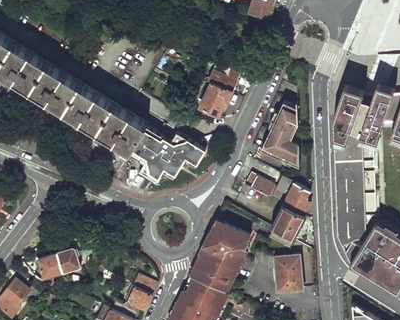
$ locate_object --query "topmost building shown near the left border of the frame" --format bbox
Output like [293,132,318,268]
[0,36,148,162]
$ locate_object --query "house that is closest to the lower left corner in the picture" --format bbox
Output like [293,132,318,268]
[0,288,21,320]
